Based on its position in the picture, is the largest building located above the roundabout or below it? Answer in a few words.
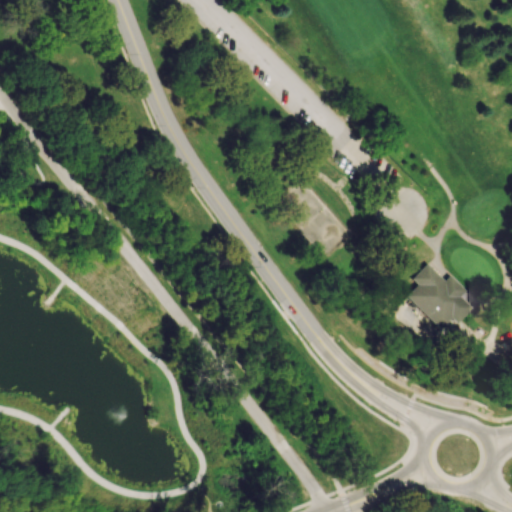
above it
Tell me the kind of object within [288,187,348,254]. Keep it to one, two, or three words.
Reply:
sports court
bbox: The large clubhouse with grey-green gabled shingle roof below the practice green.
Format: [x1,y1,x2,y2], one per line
[411,264,474,324]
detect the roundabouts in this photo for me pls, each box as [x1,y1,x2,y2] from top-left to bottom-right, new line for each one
[350,370,512,512]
